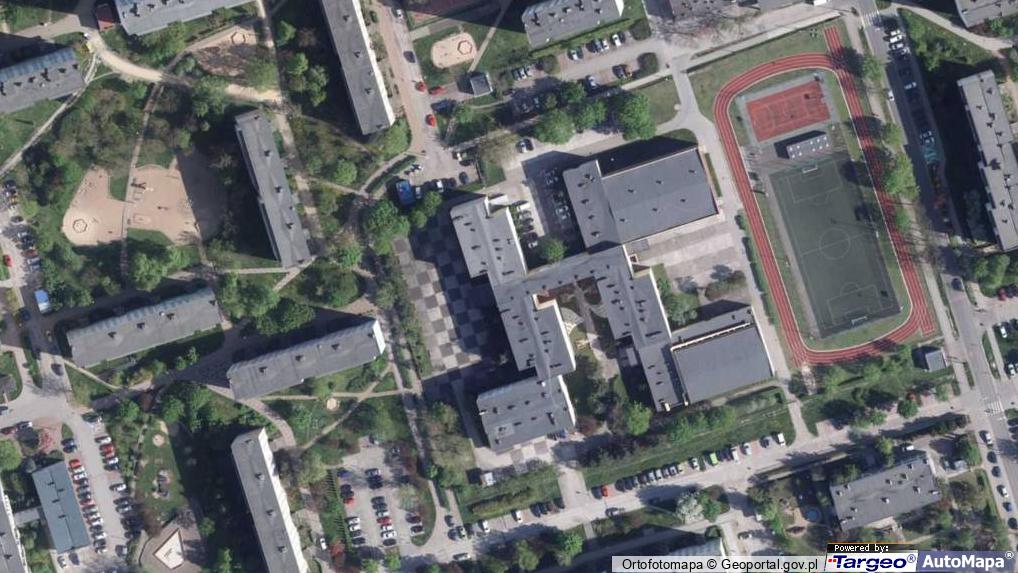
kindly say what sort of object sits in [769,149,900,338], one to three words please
soccer field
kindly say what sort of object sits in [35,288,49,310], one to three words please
vehicle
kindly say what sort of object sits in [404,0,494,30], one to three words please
sports court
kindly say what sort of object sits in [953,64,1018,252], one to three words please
building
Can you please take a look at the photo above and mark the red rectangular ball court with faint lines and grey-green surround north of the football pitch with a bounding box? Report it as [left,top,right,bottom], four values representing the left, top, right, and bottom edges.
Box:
[736,71,841,154]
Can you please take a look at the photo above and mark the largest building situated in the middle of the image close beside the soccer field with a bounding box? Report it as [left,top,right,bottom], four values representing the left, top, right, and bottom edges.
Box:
[450,144,774,454]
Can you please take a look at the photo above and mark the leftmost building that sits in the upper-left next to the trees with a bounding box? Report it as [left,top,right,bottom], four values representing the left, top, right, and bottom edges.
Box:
[0,49,92,109]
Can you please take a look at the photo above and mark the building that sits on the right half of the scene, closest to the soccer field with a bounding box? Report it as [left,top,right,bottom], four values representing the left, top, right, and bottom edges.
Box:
[786,131,829,160]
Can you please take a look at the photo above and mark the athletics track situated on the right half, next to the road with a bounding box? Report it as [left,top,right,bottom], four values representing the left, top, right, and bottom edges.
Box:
[716,25,936,365]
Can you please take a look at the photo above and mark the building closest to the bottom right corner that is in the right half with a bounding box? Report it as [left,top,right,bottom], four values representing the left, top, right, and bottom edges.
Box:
[830,454,941,530]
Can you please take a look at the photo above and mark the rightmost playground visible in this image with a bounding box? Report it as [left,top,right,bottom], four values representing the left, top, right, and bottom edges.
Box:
[432,33,477,68]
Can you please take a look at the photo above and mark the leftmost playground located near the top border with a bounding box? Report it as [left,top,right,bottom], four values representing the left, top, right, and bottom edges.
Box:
[195,25,261,65]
